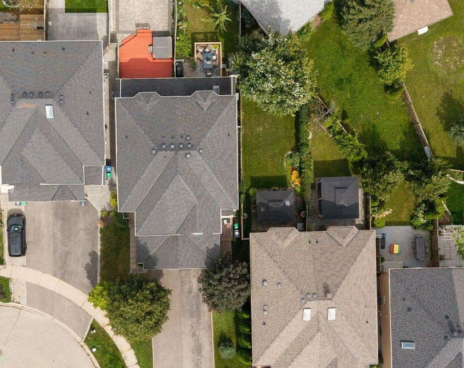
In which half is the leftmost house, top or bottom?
top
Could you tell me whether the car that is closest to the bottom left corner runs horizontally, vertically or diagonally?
vertically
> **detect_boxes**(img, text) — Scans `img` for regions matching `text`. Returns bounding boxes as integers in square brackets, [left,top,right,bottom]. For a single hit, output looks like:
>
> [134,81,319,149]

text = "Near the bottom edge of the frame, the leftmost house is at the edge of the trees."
[250,226,378,368]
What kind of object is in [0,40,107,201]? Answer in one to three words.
house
